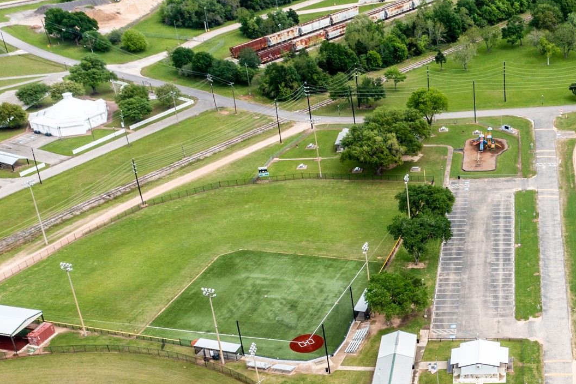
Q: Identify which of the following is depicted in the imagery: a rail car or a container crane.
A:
rail car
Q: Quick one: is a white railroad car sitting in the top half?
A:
Yes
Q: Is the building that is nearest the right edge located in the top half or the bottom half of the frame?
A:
bottom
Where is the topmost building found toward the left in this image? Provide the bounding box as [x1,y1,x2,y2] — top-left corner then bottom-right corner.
[24,91,113,141]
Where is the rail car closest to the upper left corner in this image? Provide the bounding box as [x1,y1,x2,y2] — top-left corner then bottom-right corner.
[228,32,267,57]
